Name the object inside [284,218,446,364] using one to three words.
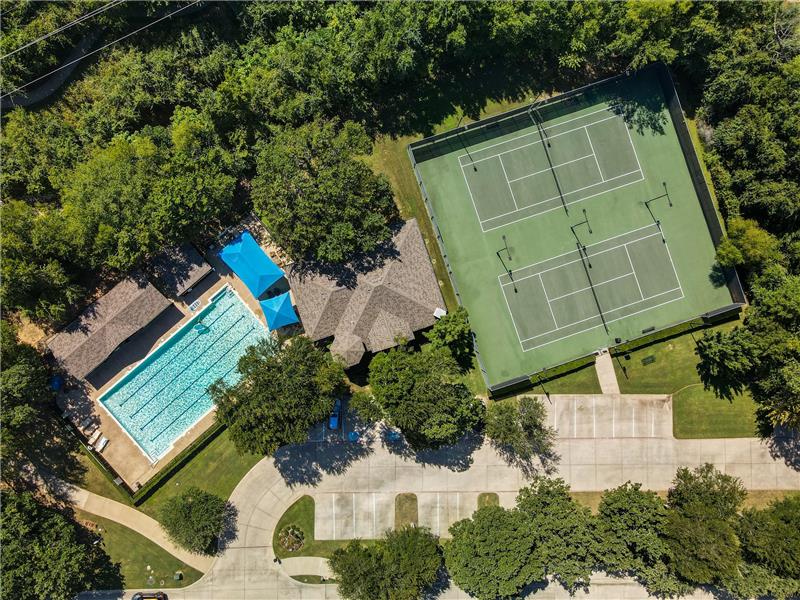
building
